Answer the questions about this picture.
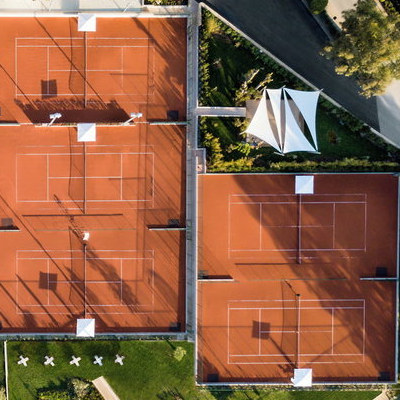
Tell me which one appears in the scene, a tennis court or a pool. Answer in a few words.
tennis court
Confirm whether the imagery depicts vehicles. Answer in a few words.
No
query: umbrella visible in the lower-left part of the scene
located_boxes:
[77,318,95,336]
